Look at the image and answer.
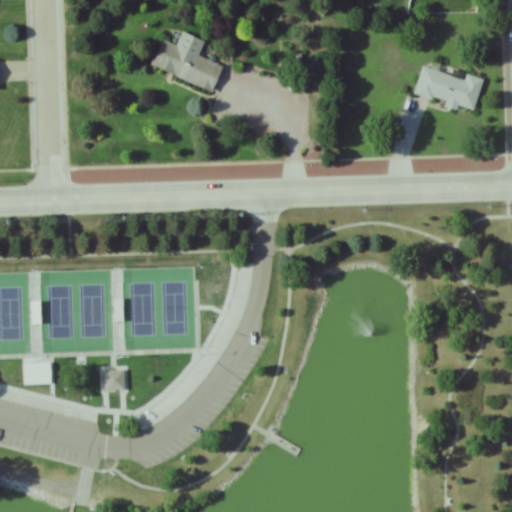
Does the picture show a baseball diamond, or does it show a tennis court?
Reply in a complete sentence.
Looking from above, you can make out a tennis court.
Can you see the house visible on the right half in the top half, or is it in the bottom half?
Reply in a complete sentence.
It is in the top half that the house visible on the right half appears.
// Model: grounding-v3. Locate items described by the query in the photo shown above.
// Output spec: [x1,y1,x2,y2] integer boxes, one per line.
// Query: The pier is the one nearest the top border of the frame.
[254,424,302,456]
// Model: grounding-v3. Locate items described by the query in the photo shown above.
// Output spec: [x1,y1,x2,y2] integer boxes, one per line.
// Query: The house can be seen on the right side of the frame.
[414,66,484,110]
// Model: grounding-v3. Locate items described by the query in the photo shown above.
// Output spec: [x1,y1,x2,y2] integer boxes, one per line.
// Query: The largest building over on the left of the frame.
[152,32,224,90]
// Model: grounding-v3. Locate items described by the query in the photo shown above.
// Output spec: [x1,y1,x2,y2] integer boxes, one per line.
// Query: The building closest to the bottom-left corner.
[22,361,52,386]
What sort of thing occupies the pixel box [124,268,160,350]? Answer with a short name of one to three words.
tennis court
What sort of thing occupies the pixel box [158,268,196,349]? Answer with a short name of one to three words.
tennis court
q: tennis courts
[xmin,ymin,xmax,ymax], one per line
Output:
[124,268,160,350]
[41,271,78,353]
[0,272,30,354]
[158,268,196,349]
[76,270,112,352]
